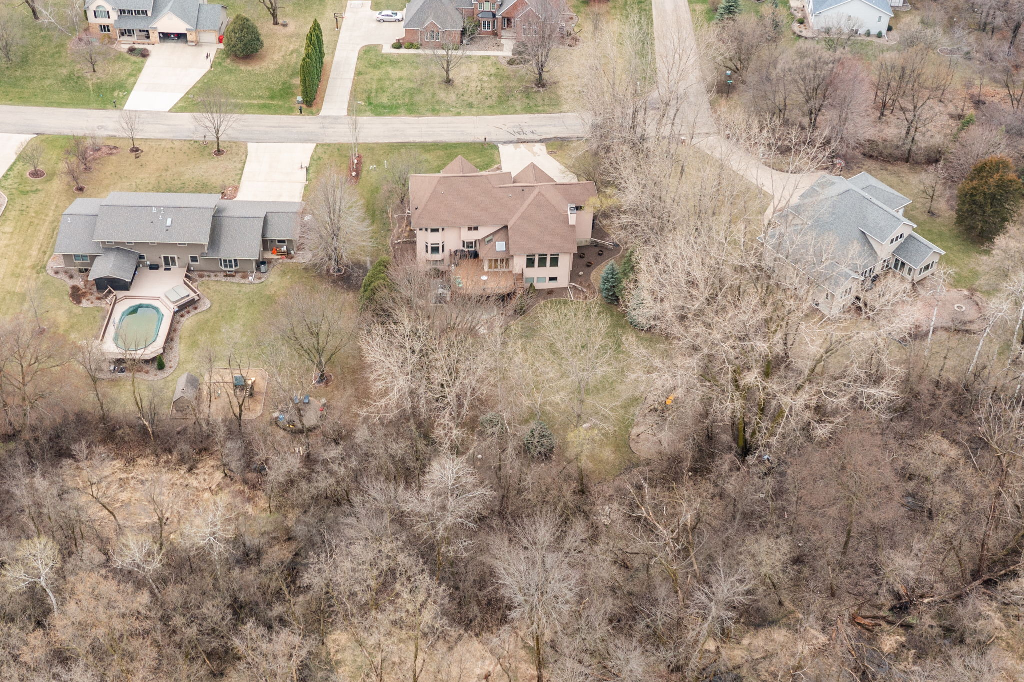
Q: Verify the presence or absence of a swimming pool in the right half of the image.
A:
No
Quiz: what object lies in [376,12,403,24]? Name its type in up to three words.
vehicle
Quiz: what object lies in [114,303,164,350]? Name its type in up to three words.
swimming pool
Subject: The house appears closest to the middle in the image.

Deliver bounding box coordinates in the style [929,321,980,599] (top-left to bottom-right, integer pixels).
[408,154,619,299]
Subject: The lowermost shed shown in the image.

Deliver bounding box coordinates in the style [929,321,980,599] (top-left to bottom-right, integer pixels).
[166,375,199,418]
